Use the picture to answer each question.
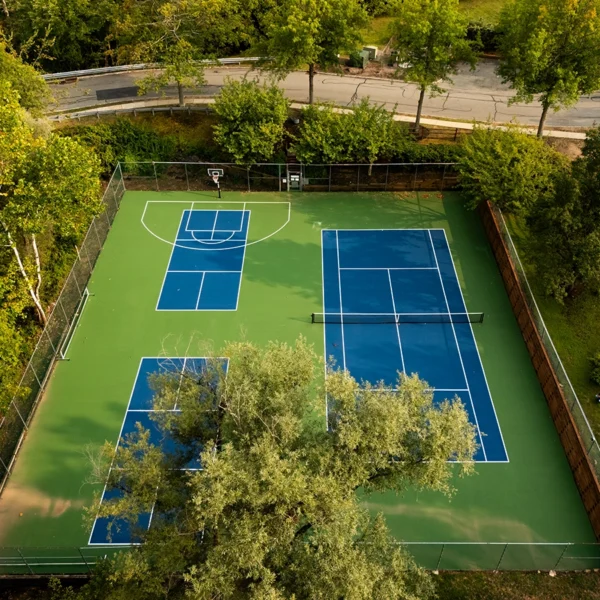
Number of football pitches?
0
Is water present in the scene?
No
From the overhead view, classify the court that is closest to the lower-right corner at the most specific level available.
tennis court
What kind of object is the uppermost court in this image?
basketball court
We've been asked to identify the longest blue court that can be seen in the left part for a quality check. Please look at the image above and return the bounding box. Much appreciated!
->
[88,357,229,546]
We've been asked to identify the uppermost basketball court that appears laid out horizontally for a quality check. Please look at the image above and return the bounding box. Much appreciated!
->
[129,200,291,251]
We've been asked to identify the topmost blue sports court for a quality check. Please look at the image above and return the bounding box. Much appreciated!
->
[156,210,250,310]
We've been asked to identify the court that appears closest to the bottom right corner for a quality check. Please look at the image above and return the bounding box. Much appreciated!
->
[321,229,510,463]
